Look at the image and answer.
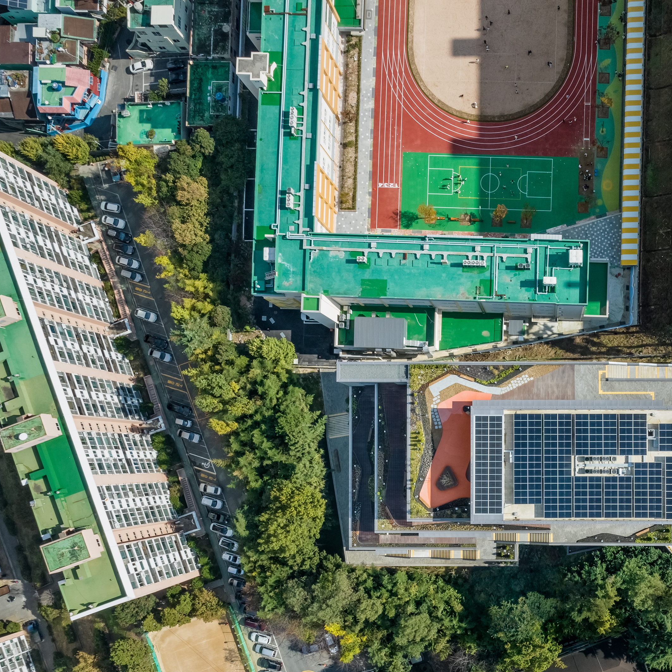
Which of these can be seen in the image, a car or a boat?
car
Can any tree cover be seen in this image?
Yes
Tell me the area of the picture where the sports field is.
top right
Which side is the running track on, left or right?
right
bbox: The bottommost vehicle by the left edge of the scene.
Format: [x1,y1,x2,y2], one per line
[26,619,41,644]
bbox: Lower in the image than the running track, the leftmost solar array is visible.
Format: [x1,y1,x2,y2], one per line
[476,416,503,513]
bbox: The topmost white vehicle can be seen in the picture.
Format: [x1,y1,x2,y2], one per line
[128,58,155,75]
